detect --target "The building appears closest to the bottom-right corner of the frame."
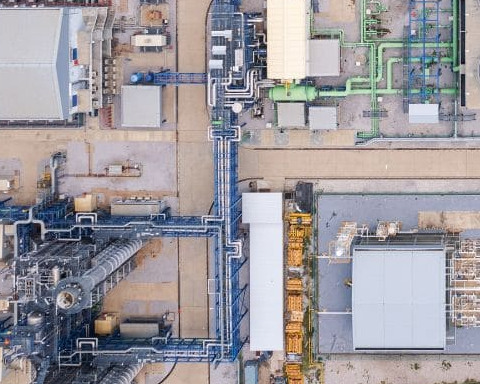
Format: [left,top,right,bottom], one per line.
[352,224,448,351]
